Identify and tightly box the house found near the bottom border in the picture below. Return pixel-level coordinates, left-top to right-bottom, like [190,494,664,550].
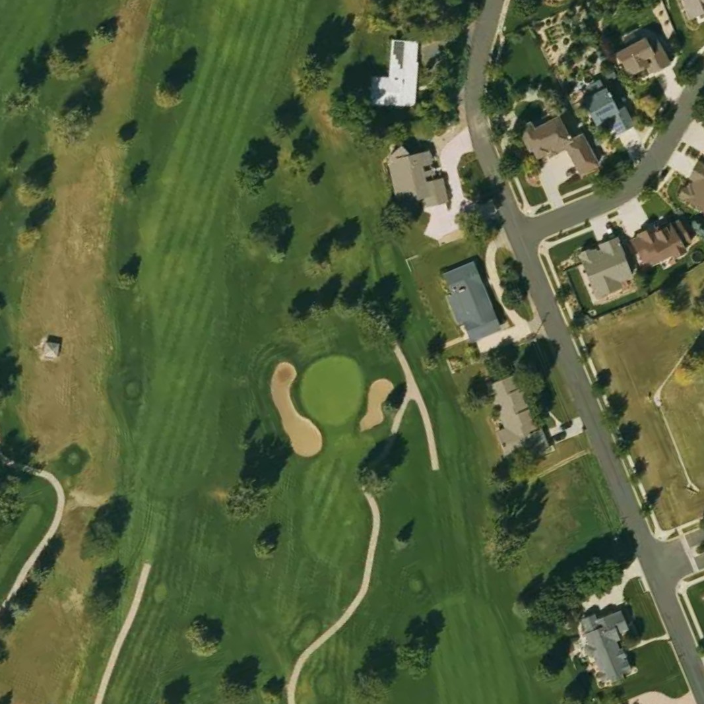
[577,607,638,684]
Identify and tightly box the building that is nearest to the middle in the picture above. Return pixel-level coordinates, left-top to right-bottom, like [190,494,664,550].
[443,262,503,344]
